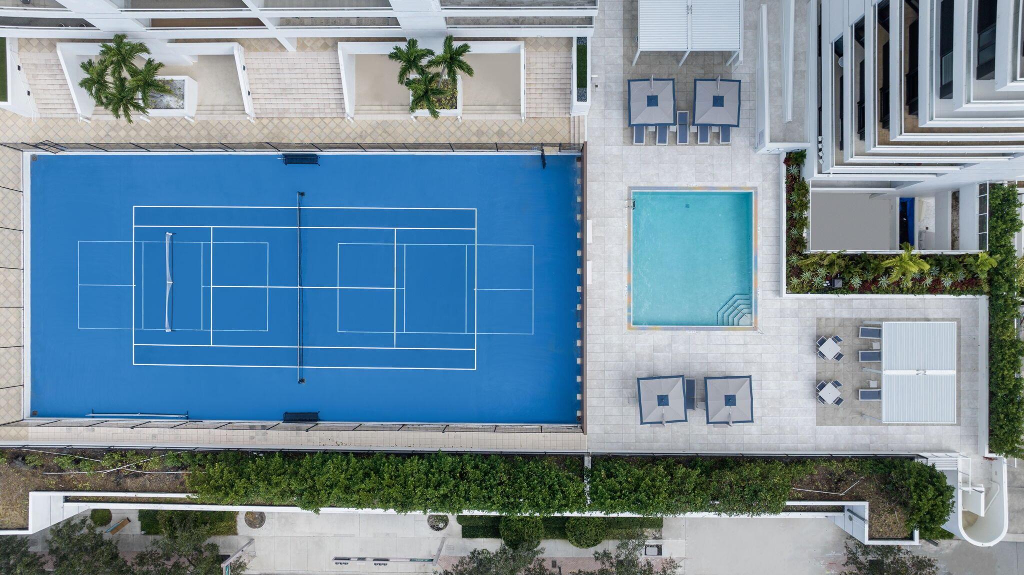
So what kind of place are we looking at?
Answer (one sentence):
What you see here is a sports ground.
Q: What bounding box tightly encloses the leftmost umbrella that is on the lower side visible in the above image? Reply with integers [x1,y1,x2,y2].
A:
[636,375,688,427]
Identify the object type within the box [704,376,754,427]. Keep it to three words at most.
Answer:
umbrella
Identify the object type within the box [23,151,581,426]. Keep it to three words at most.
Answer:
tennis court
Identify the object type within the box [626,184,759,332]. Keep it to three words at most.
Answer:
swimming pool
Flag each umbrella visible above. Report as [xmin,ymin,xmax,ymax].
[692,73,741,128]
[704,376,754,427]
[636,375,688,427]
[628,72,676,127]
